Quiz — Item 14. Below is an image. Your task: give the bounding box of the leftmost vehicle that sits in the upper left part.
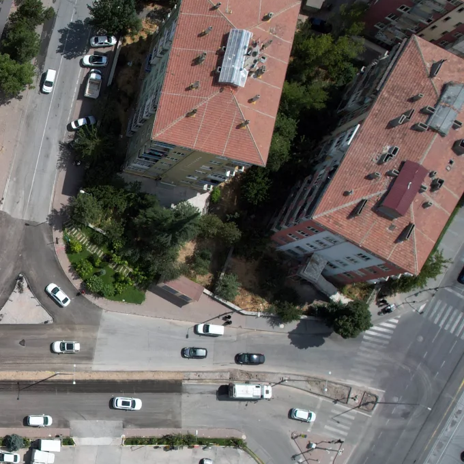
[40,65,58,96]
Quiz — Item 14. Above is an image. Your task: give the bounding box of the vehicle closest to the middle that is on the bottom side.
[193,321,227,337]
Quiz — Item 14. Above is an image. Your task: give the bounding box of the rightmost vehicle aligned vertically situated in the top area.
[86,66,102,102]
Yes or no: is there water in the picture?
No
